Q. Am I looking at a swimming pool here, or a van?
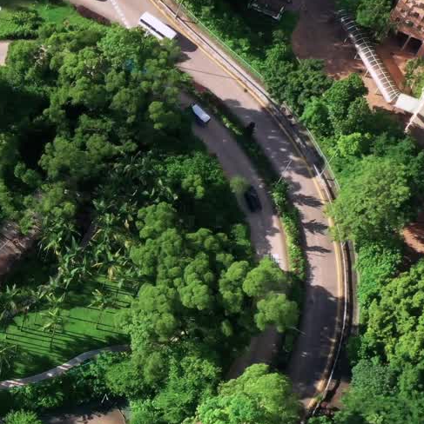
van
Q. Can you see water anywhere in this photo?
No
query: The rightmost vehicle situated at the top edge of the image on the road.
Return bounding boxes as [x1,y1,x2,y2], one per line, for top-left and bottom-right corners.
[133,13,180,49]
